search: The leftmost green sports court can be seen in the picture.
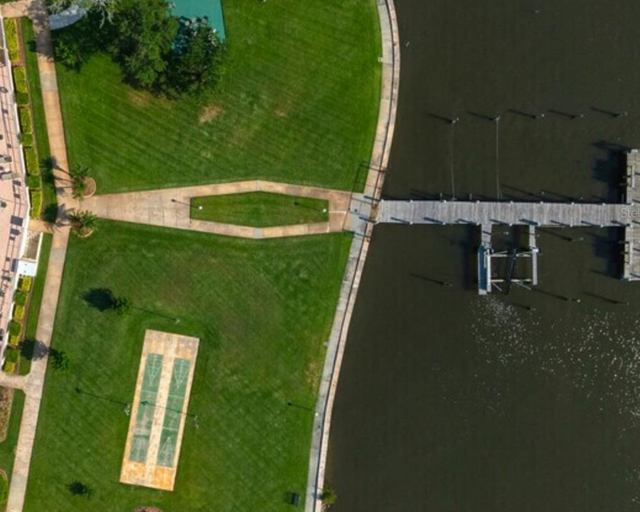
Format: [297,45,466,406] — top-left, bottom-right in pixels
[130,354,163,462]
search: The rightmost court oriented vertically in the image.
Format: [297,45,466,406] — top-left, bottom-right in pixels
[157,357,191,467]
